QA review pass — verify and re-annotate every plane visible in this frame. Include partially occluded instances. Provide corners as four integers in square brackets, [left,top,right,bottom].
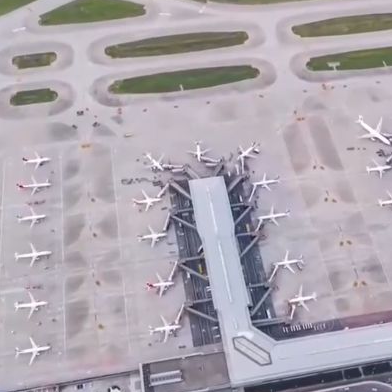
[253,171,280,191]
[260,203,288,225]
[369,158,391,177]
[16,241,52,266]
[275,249,302,272]
[355,114,389,143]
[151,314,180,342]
[146,271,175,297]
[289,284,316,311]
[16,334,50,364]
[18,175,51,195]
[137,190,161,211]
[144,153,164,170]
[139,226,167,248]
[24,150,50,168]
[17,206,47,228]
[187,143,210,162]
[238,143,258,158]
[16,291,48,317]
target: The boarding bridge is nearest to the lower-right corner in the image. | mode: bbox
[254,303,295,326]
